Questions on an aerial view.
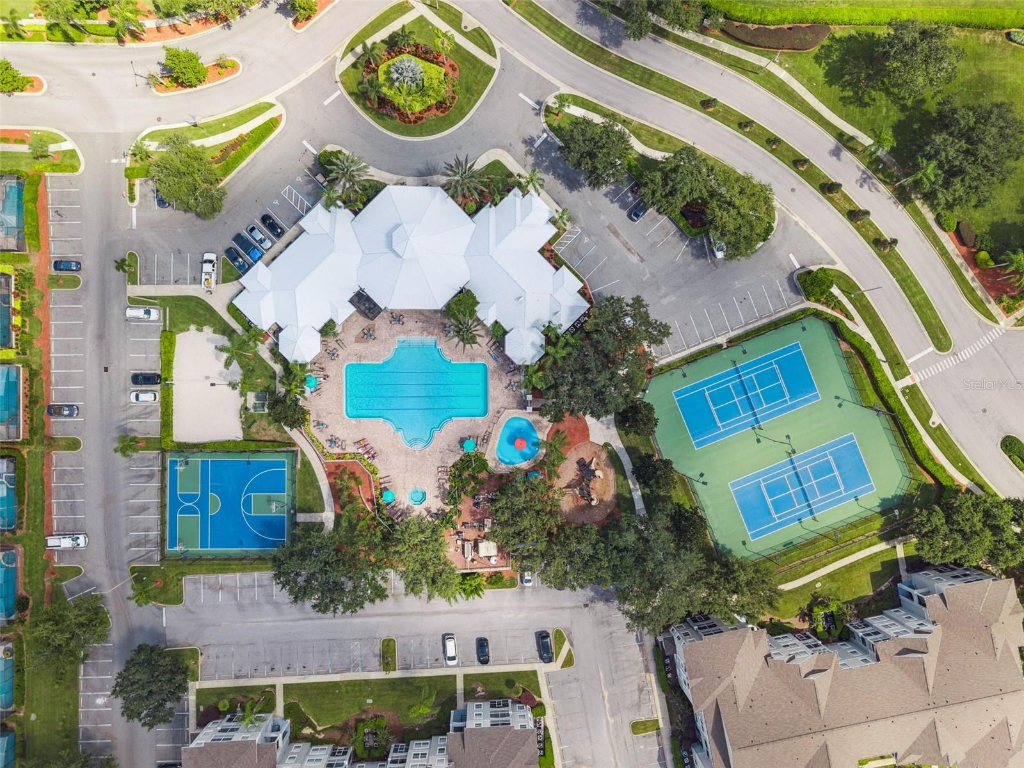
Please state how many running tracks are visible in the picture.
none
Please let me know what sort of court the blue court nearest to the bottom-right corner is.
tennis court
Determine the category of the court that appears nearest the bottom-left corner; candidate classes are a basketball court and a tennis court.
basketball court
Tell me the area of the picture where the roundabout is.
top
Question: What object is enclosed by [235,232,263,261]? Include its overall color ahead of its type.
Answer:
blue truck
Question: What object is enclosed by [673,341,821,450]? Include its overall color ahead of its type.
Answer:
blue tennis court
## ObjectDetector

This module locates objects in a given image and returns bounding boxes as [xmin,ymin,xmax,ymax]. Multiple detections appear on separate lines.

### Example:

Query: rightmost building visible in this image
[674,568,1024,768]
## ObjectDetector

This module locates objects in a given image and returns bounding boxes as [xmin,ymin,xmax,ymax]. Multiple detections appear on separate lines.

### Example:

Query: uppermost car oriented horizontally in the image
[54,259,83,272]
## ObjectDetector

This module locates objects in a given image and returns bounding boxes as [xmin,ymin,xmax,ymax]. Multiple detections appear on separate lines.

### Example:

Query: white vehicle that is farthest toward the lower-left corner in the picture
[47,534,87,550]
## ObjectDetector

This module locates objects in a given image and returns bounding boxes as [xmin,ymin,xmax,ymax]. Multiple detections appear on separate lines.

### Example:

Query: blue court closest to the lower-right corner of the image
[729,432,876,541]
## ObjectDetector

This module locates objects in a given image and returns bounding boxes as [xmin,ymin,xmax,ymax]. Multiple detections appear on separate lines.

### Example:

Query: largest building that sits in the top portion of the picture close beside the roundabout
[232,186,591,365]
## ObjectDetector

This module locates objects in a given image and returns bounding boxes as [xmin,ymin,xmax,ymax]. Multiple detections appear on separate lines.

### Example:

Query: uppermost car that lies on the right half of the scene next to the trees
[627,197,649,223]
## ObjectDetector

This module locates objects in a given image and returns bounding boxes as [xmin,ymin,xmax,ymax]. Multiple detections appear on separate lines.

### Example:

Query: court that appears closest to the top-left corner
[172,325,243,442]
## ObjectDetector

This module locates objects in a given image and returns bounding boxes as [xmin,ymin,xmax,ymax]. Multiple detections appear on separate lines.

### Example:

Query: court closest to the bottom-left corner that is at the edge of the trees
[165,451,297,559]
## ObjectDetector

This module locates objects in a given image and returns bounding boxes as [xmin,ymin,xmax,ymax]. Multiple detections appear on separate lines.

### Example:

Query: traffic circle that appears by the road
[334,0,500,140]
